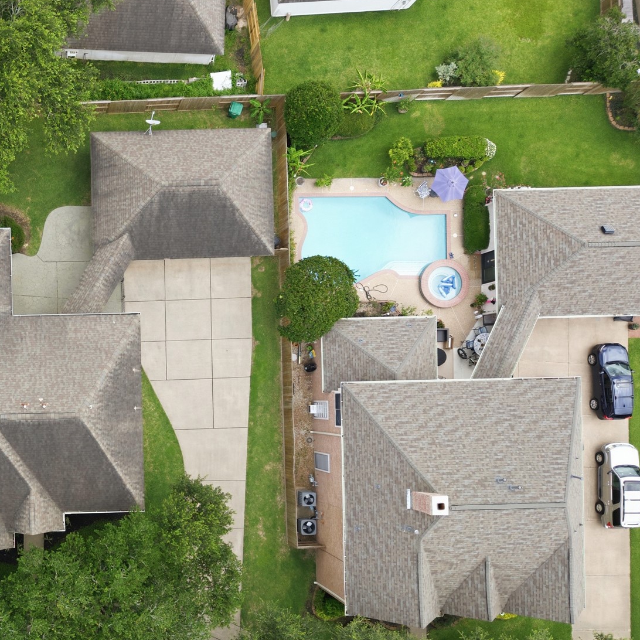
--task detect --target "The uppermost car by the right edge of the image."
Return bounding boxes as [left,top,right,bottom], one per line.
[590,343,638,420]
